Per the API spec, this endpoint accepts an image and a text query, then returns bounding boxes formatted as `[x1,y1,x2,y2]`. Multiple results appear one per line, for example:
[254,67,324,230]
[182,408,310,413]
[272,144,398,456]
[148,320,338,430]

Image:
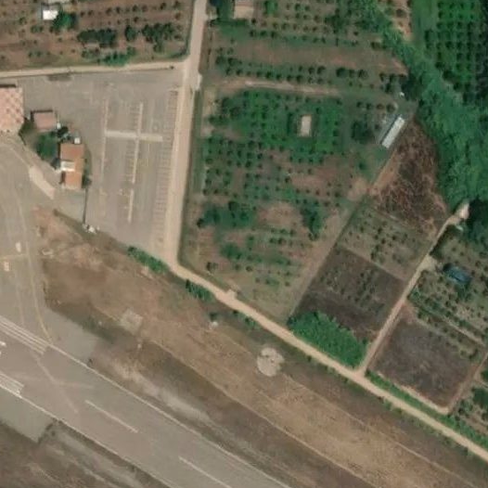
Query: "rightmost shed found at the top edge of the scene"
[235,0,253,18]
